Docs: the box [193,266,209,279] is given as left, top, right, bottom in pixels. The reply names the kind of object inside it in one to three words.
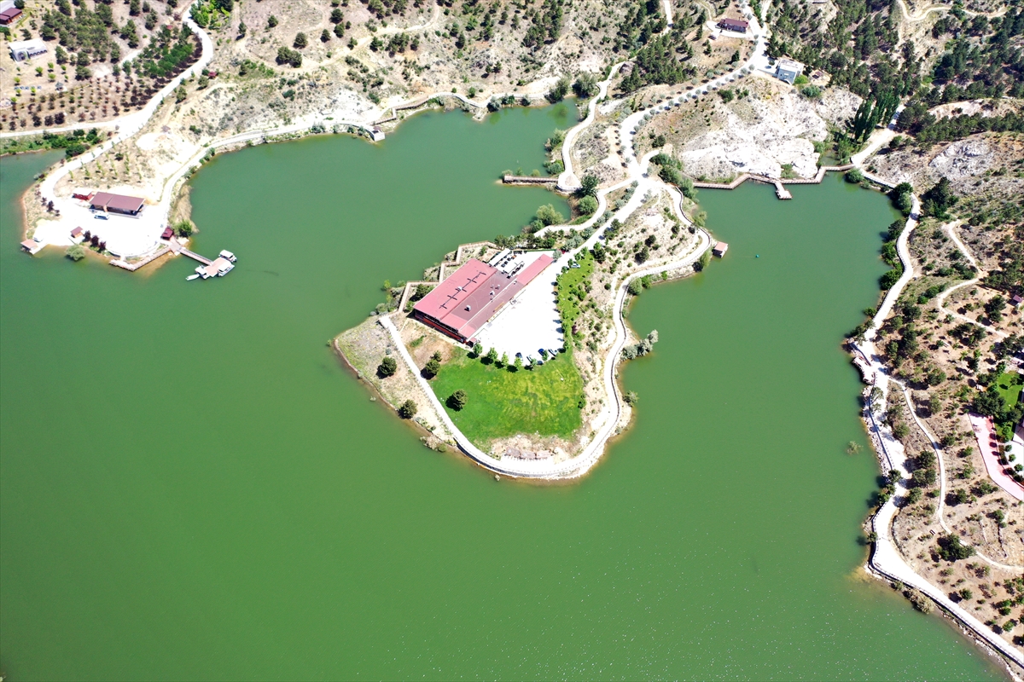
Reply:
boat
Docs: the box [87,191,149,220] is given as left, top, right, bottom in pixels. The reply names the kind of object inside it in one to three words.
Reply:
building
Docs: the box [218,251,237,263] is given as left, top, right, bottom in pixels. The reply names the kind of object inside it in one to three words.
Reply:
boat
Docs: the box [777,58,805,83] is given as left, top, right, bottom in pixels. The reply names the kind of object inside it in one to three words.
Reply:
house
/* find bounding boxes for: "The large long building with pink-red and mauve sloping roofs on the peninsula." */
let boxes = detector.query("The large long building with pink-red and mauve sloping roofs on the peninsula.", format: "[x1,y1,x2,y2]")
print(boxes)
[414,254,554,347]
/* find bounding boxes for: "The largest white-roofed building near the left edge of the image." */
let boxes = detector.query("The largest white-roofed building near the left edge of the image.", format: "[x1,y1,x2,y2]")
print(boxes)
[8,38,48,61]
